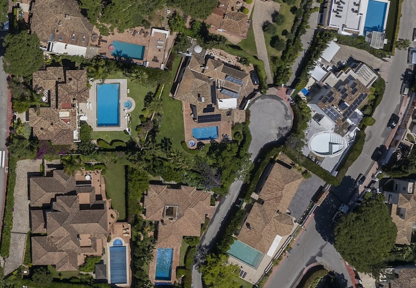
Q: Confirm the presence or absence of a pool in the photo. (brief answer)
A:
Yes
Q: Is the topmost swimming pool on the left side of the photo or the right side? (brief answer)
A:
right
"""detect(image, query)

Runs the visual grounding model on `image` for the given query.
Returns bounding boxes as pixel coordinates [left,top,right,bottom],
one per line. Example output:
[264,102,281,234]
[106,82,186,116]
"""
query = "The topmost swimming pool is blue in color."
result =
[363,0,389,36]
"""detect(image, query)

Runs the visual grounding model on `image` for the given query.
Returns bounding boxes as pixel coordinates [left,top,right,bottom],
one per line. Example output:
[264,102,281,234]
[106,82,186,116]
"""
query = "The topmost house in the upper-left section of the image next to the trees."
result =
[30,0,99,58]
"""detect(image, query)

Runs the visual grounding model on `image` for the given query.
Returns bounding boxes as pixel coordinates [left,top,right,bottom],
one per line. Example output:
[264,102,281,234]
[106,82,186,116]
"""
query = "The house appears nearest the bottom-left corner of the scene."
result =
[29,170,108,272]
